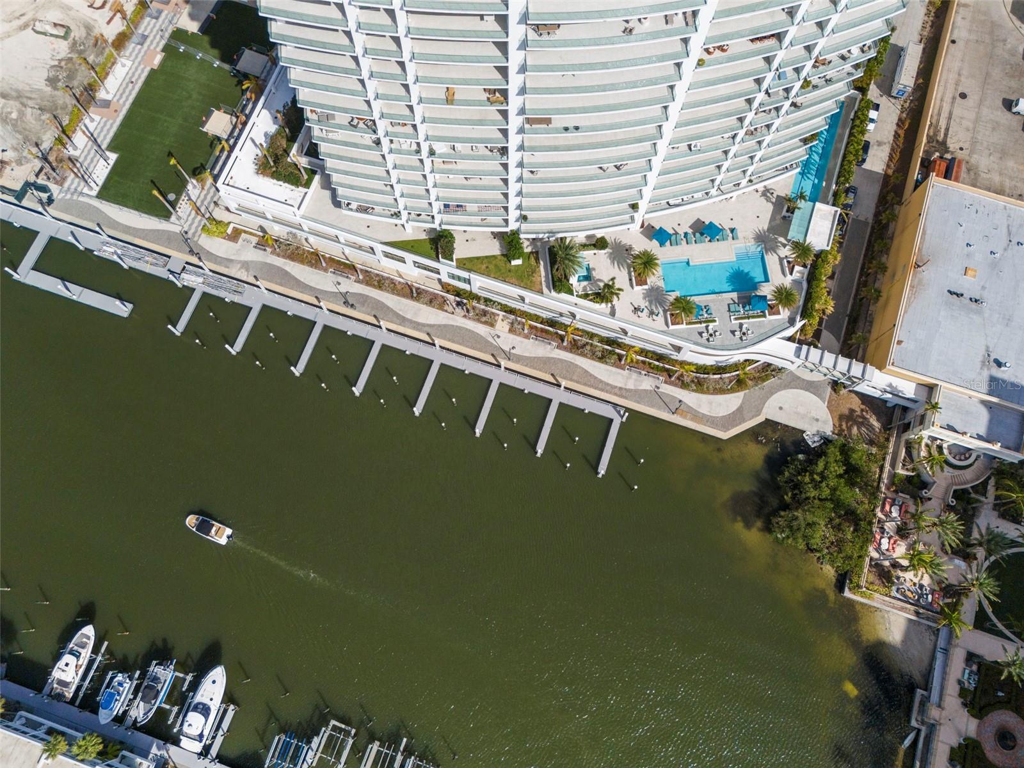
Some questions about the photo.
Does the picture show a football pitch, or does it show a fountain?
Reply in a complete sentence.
The one in the frame is a fountain.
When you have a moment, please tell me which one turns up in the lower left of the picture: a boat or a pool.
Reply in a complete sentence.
Visible in the lower left of the picture is a boat.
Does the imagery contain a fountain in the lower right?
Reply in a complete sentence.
Yes, you'll find a fountain in the lower right.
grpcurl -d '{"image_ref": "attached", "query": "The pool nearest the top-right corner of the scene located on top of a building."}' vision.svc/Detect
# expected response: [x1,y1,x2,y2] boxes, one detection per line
[788,98,844,240]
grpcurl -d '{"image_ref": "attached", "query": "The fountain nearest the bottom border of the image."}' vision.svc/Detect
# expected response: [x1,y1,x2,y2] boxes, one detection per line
[993,728,1019,754]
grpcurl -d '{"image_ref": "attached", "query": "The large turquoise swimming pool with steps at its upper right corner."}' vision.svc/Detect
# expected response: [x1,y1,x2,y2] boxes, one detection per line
[657,239,775,300]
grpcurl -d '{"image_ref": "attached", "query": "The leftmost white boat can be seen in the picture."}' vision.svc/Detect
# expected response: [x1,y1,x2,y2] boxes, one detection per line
[48,625,97,706]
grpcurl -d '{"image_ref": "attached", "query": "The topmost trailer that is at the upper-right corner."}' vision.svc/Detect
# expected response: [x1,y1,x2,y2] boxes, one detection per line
[890,41,923,98]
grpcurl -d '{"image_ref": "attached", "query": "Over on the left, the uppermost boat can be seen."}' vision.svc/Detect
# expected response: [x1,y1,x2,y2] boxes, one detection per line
[186,516,234,545]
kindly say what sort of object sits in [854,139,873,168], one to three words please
car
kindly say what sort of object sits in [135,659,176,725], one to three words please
boat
